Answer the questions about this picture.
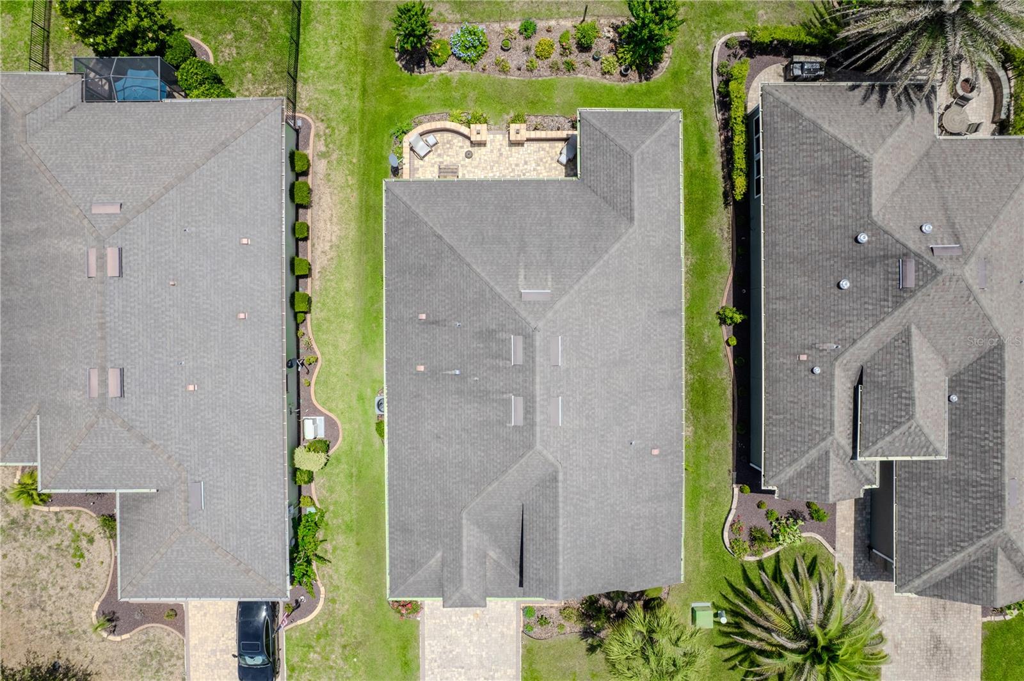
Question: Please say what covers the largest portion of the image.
buildings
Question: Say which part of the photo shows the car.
bottom left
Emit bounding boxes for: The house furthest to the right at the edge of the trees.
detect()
[748,83,1024,607]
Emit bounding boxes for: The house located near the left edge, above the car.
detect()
[0,72,299,600]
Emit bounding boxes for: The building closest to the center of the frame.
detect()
[384,109,684,608]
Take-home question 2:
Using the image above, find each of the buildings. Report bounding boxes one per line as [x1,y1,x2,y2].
[0,72,299,600]
[748,83,1024,607]
[384,109,684,608]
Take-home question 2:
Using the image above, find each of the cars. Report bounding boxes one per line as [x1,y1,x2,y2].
[235,600,284,681]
